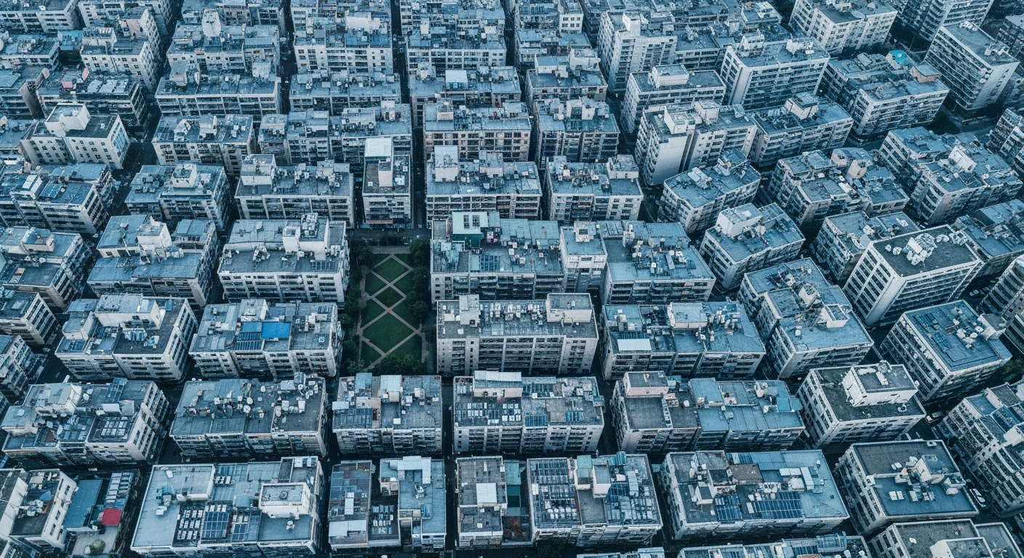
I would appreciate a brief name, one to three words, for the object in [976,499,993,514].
car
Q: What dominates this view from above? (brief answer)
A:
buildings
